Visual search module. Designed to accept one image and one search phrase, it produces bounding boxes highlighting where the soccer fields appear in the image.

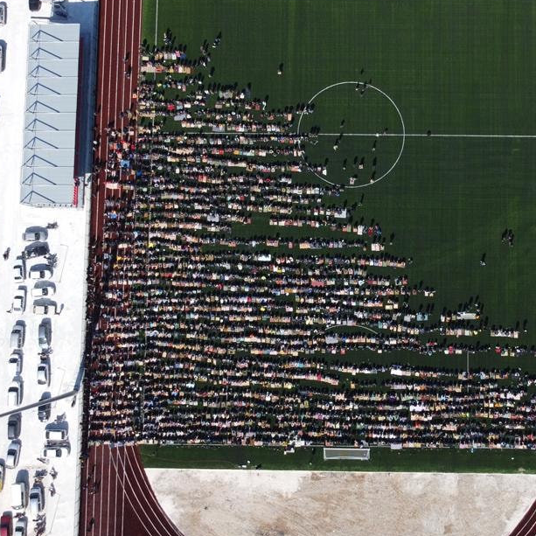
[130,0,536,477]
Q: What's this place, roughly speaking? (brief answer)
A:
sports ground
